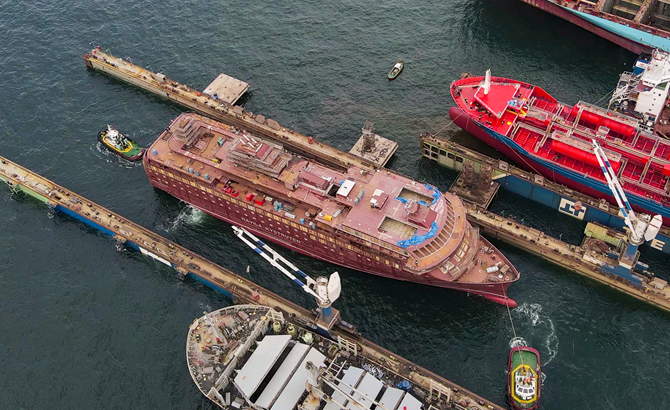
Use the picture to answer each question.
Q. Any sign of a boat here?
Yes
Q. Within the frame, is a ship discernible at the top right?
Yes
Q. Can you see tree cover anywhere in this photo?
No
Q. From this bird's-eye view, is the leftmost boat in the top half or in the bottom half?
top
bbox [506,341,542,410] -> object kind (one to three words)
boat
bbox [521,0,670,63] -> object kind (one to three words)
ship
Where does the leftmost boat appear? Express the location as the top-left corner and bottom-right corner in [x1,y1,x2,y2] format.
[97,122,150,162]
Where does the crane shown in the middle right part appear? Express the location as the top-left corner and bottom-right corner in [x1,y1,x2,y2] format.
[594,133,660,279]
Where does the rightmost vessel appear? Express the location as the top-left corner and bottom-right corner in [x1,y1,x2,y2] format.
[603,51,670,149]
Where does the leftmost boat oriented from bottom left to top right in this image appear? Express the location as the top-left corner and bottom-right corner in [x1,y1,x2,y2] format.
[387,64,403,81]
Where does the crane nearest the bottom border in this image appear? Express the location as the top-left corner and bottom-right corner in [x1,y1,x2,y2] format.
[228,232,344,343]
